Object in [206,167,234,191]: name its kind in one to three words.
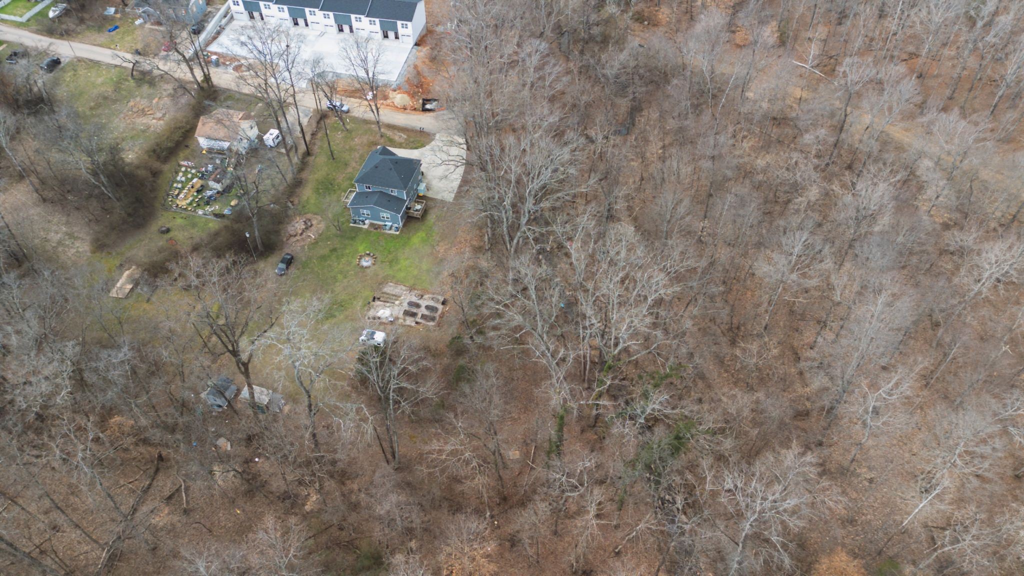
shed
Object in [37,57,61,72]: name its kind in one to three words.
car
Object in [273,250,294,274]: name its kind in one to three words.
car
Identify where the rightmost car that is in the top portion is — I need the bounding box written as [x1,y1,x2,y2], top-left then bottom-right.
[326,100,349,114]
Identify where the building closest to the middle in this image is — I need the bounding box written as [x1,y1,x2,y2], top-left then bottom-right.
[346,146,425,227]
